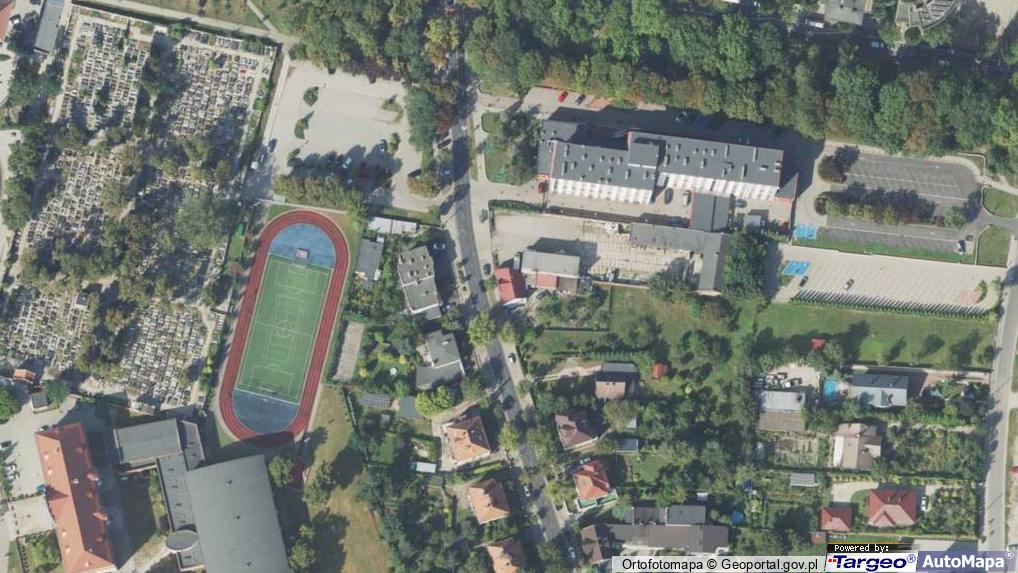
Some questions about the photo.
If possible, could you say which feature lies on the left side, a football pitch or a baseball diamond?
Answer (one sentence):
What appears on the left side is a football pitch.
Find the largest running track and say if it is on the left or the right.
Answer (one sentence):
The largest running track appears in the left half of the scene.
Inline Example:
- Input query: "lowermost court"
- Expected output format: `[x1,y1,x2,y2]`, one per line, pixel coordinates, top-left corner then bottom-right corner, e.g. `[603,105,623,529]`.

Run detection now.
[236,389,298,432]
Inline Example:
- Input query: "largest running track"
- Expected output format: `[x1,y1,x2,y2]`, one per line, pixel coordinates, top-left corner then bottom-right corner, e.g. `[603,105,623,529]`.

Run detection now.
[220,209,350,448]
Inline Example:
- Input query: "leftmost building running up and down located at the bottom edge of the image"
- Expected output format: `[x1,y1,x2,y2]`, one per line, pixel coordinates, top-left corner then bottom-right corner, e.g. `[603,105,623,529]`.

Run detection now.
[36,423,111,573]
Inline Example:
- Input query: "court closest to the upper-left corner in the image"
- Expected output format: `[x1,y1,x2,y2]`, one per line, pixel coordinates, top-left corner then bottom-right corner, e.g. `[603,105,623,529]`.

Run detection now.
[271,224,335,269]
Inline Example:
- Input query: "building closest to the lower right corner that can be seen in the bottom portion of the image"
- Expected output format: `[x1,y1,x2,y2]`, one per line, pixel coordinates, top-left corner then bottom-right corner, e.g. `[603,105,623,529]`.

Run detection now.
[867,490,917,530]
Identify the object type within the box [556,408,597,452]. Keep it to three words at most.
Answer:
house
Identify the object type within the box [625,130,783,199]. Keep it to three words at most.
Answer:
building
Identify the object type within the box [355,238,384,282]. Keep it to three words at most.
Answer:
shed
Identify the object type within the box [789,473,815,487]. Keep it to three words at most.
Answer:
greenhouse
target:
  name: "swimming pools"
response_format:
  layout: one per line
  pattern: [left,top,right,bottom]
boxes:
[821,378,839,398]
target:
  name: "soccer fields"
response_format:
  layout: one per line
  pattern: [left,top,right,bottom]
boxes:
[238,254,332,405]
